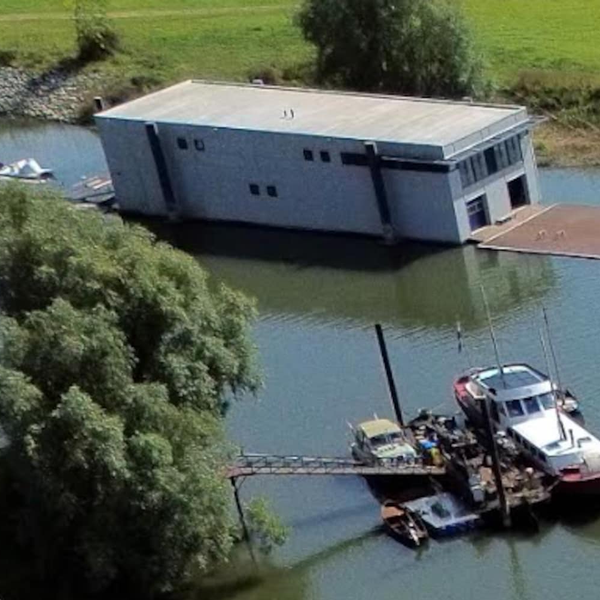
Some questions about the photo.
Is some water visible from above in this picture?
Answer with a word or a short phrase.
Yes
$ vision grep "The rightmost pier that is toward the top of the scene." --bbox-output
[63,174,116,201]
